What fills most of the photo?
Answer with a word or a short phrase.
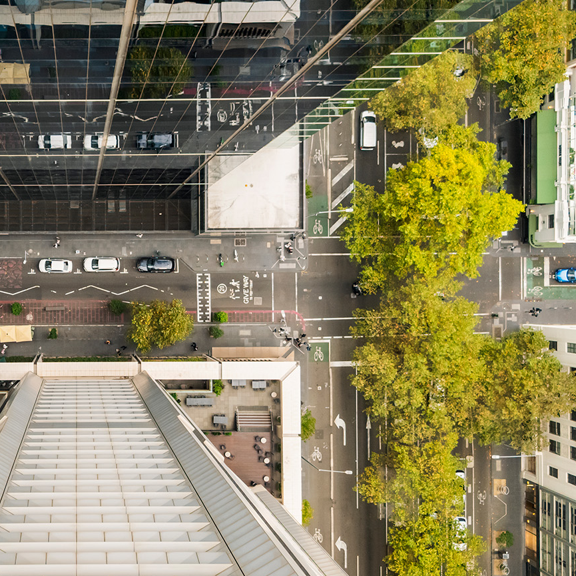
buildings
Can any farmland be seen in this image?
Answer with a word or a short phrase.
No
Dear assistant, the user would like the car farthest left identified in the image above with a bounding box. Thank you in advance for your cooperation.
[38,257,73,274]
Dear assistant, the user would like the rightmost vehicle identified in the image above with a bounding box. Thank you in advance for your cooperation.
[553,266,576,285]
